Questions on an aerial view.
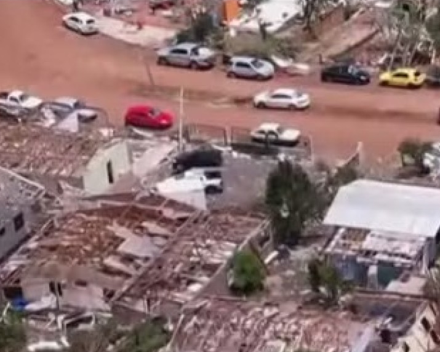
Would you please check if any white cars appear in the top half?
Yes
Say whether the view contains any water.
No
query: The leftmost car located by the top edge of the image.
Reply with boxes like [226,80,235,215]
[59,14,103,37]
